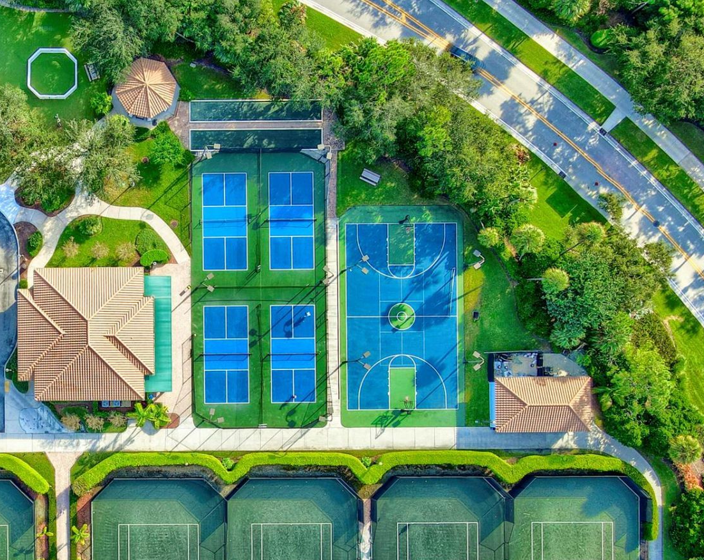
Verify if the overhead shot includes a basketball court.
Yes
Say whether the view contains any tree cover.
Yes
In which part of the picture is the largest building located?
left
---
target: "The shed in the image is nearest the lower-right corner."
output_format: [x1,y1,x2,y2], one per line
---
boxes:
[487,377,591,434]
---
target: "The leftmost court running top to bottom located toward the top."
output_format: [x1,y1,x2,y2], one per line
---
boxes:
[191,152,260,294]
